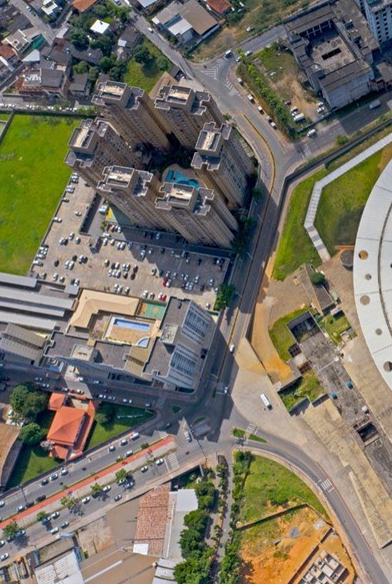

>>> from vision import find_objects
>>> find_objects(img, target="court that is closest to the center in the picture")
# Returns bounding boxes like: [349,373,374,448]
[139,302,170,321]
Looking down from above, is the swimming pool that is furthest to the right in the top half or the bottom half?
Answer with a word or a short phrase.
top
